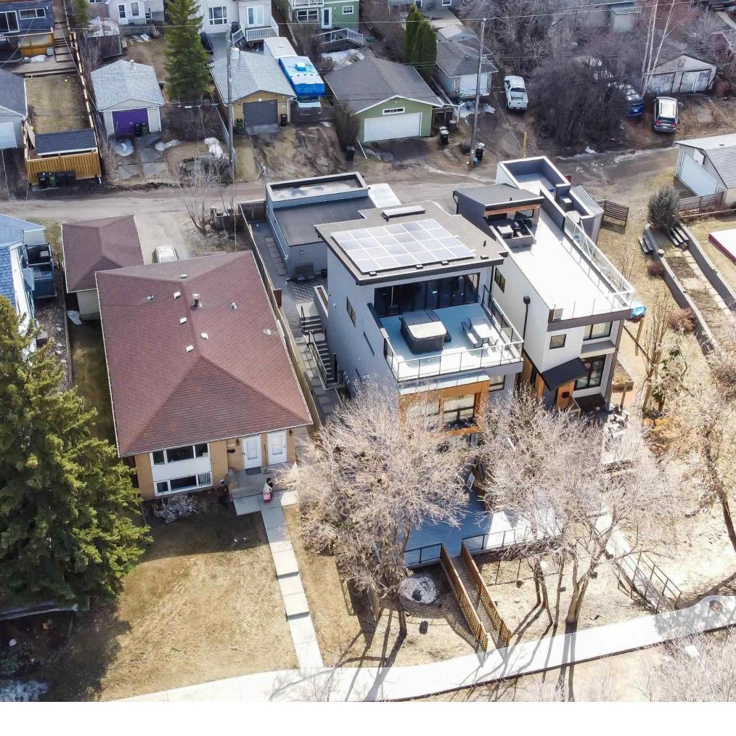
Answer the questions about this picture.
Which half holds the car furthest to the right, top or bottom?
top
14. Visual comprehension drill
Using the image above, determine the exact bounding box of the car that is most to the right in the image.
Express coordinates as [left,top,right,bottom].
[652,98,682,129]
